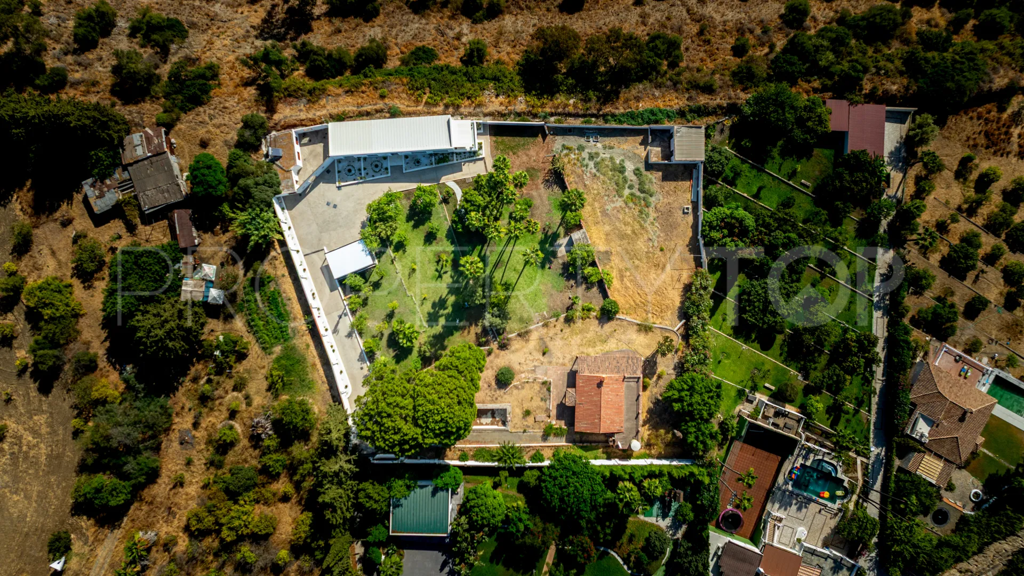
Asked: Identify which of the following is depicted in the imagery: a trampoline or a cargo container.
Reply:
trampoline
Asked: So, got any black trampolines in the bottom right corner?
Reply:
Yes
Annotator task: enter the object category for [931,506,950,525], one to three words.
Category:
trampoline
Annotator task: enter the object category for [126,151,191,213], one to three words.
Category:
shed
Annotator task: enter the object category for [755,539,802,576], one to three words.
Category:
house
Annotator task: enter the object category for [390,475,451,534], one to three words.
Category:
building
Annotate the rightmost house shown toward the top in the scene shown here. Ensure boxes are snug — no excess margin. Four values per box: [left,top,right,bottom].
[823,100,886,158]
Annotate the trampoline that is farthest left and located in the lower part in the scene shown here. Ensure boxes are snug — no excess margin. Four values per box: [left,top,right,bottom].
[719,509,743,532]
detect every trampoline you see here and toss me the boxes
[719,509,743,532]
[931,506,950,525]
